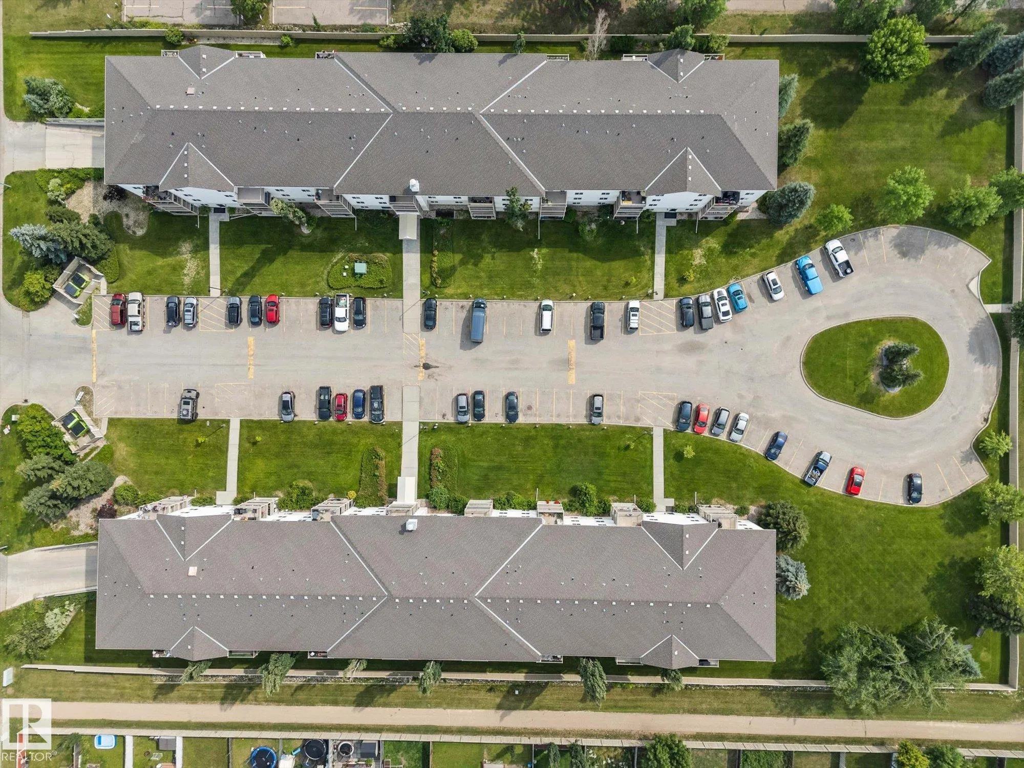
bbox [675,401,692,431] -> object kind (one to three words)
car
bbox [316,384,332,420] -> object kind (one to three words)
vehicle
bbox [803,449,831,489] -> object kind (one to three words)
truck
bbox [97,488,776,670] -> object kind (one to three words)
building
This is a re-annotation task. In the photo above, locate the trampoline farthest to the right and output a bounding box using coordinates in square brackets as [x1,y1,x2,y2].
[304,740,326,761]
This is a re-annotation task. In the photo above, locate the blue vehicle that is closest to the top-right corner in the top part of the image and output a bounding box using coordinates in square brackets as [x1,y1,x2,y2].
[795,255,824,297]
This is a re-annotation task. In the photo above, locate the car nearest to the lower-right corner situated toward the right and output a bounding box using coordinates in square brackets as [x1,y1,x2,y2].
[905,473,923,503]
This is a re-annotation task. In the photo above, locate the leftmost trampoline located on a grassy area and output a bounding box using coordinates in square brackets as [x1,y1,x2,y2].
[248,744,278,768]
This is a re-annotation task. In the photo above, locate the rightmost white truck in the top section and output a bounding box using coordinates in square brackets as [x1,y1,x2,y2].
[826,238,855,280]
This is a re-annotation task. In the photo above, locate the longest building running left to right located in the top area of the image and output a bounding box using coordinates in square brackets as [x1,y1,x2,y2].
[103,44,780,239]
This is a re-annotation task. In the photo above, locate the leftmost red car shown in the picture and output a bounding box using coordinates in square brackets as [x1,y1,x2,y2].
[109,293,128,325]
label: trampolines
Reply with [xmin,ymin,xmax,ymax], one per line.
[248,744,278,768]
[304,740,326,761]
